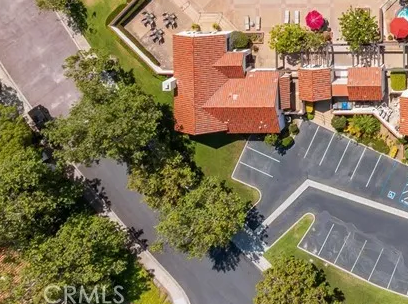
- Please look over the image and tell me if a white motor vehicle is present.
No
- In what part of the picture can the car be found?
left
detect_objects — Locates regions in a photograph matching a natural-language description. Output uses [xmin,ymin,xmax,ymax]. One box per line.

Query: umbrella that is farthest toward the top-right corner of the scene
[391,18,408,37]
